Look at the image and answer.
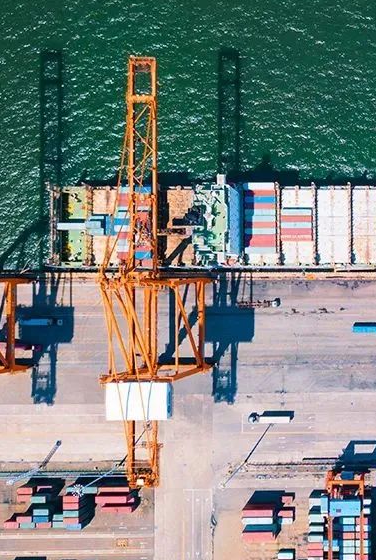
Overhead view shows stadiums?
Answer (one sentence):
No, the frame has no stadium in it.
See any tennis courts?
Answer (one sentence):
No, the scene contains no tennis court.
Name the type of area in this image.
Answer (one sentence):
This image shows a port.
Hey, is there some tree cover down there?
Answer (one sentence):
No, there's no tree cover in this view.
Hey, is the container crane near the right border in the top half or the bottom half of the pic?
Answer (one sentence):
It is in the bottom half that the container crane near the right border appears.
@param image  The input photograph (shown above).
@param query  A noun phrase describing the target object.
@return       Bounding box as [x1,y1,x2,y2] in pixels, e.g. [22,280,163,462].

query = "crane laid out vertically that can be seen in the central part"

[94,56,221,488]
